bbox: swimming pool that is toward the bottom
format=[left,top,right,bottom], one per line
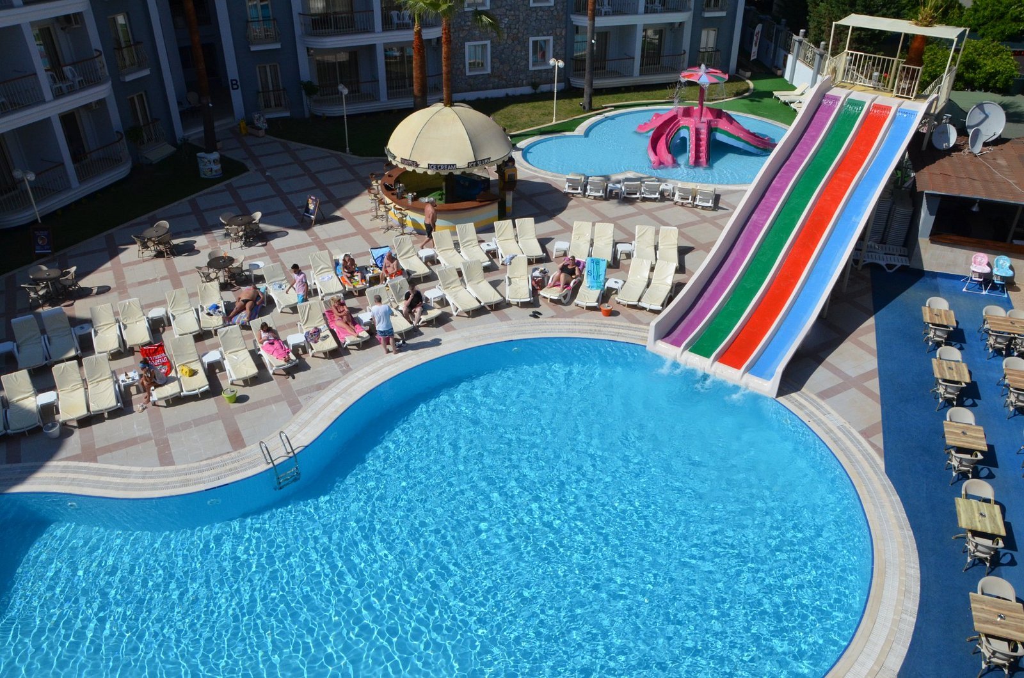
[0,338,874,678]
